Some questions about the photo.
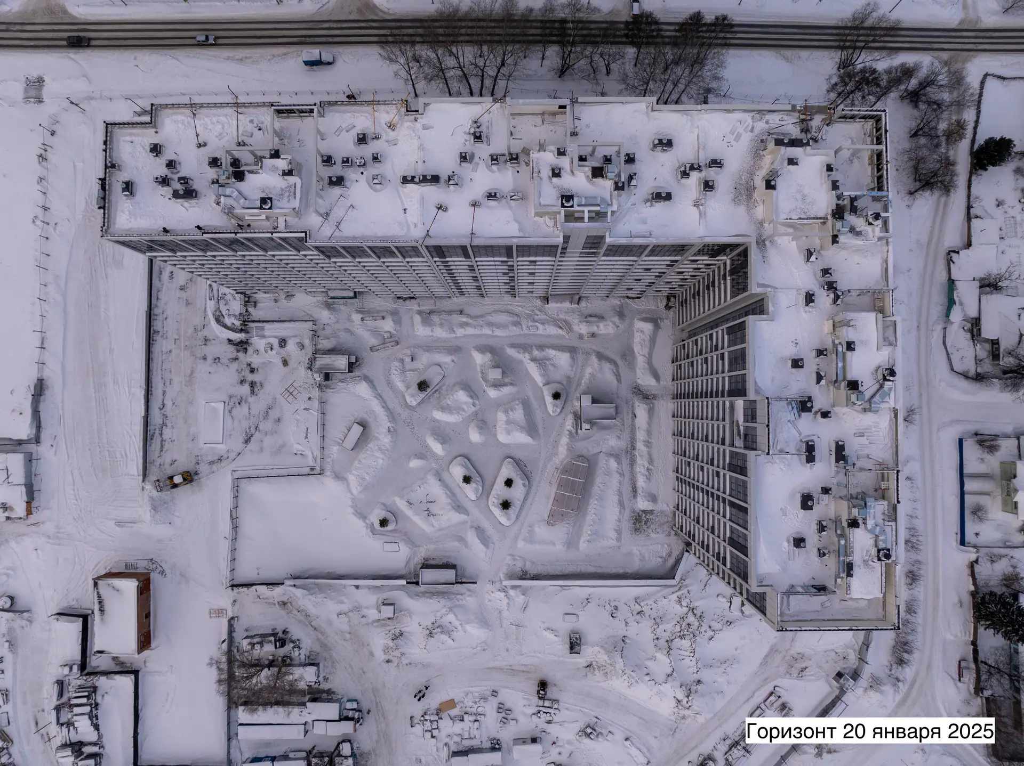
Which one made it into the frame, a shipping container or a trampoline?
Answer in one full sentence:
Visible in the photo is a shipping container.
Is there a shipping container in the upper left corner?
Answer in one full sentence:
No, there is no shipping container in the upper left corner.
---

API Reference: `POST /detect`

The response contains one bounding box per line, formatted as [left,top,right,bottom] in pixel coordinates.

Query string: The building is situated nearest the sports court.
[579,394,615,429]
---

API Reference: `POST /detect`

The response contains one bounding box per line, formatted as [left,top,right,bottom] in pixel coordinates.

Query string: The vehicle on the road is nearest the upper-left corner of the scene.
[65,34,91,48]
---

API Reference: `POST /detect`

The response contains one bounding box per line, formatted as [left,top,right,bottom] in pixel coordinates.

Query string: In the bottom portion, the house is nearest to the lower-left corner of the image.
[89,573,152,655]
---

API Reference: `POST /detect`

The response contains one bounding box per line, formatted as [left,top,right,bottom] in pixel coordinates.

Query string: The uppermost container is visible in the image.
[341,421,366,450]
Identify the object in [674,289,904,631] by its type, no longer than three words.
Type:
building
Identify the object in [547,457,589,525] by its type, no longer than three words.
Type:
sports court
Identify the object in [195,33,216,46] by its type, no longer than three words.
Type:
vehicle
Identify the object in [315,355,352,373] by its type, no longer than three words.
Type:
building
